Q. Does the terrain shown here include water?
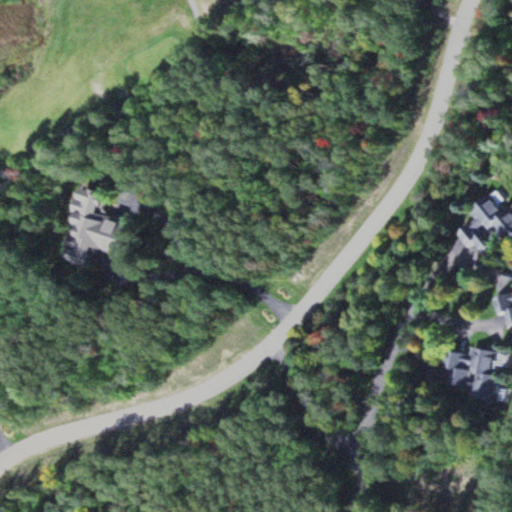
No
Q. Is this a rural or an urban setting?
rural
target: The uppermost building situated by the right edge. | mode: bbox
[454,188,512,258]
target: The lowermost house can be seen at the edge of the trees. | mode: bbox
[445,344,497,392]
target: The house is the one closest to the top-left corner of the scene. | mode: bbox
[66,189,120,254]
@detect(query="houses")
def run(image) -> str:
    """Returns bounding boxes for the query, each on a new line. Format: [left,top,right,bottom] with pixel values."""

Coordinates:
[445,344,497,392]
[454,188,512,258]
[491,276,512,339]
[66,189,120,254]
